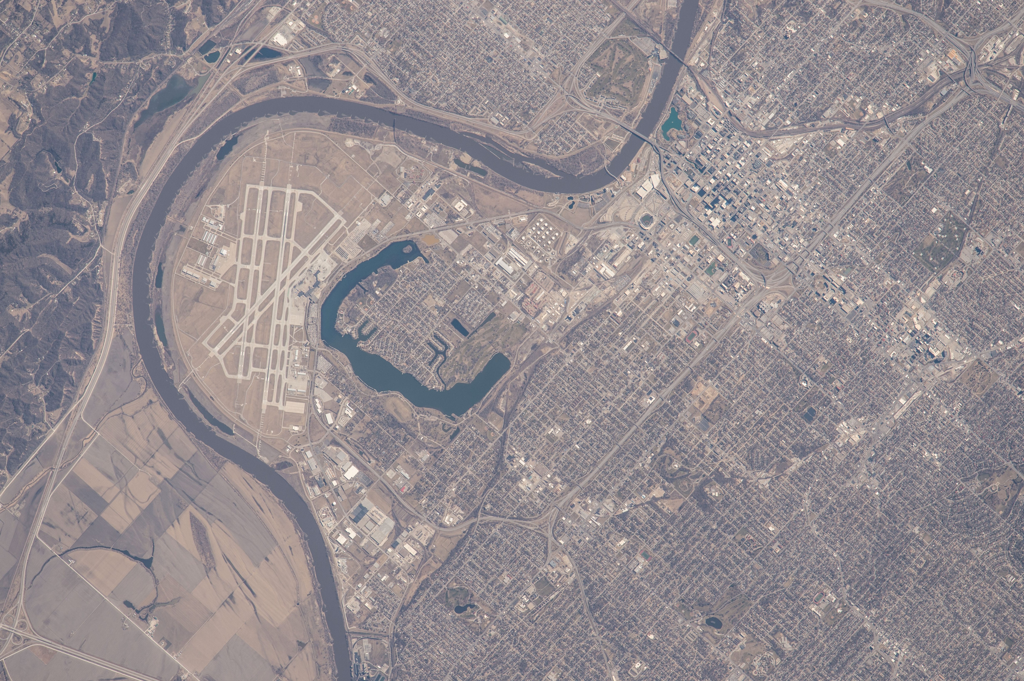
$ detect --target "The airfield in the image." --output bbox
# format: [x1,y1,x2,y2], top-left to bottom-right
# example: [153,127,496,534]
[173,130,392,444]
